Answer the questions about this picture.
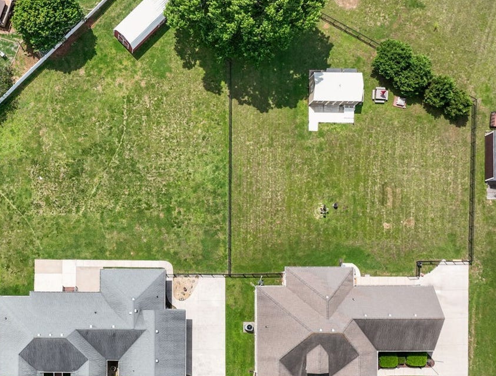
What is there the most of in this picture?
grass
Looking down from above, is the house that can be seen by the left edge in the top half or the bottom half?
bottom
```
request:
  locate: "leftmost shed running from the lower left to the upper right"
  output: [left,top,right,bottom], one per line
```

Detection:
[114,0,178,53]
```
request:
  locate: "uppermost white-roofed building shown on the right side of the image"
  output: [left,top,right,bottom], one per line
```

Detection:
[308,73,363,117]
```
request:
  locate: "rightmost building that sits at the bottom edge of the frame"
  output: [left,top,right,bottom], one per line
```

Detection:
[255,267,444,376]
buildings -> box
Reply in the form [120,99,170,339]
[308,73,363,117]
[255,267,444,376]
[114,0,178,53]
[0,268,187,376]
[486,130,496,180]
